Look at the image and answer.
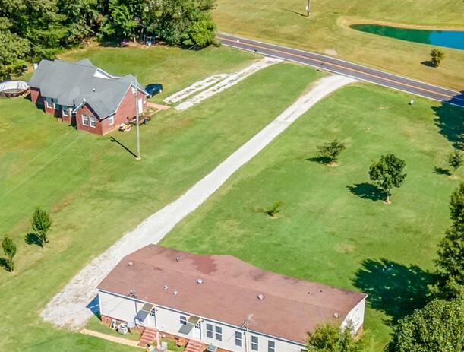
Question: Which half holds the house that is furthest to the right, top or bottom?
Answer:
bottom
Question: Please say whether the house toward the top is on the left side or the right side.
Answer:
left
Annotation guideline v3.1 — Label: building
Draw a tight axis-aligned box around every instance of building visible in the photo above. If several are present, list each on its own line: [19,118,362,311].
[26,58,148,134]
[95,243,371,352]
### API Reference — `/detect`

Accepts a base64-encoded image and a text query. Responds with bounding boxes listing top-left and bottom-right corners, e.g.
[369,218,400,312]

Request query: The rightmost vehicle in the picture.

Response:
[142,81,170,96]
